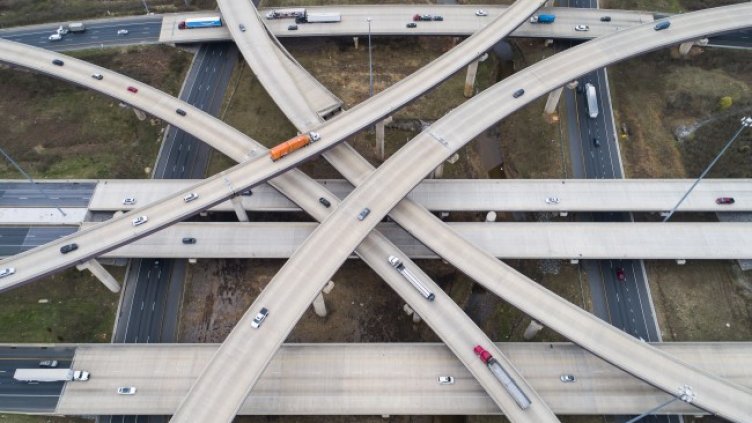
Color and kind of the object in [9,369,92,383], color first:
white vehicle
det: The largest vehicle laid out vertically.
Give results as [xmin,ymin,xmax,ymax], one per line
[585,82,601,123]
